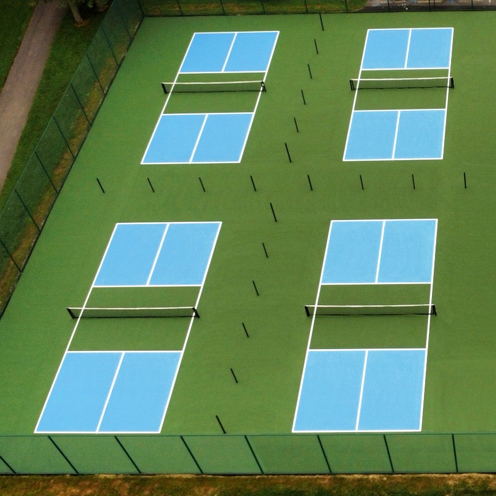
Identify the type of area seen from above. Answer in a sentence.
It's a sports ground.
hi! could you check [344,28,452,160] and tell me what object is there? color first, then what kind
blue sports court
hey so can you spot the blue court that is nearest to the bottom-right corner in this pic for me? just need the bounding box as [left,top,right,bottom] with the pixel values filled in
[294,220,436,431]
